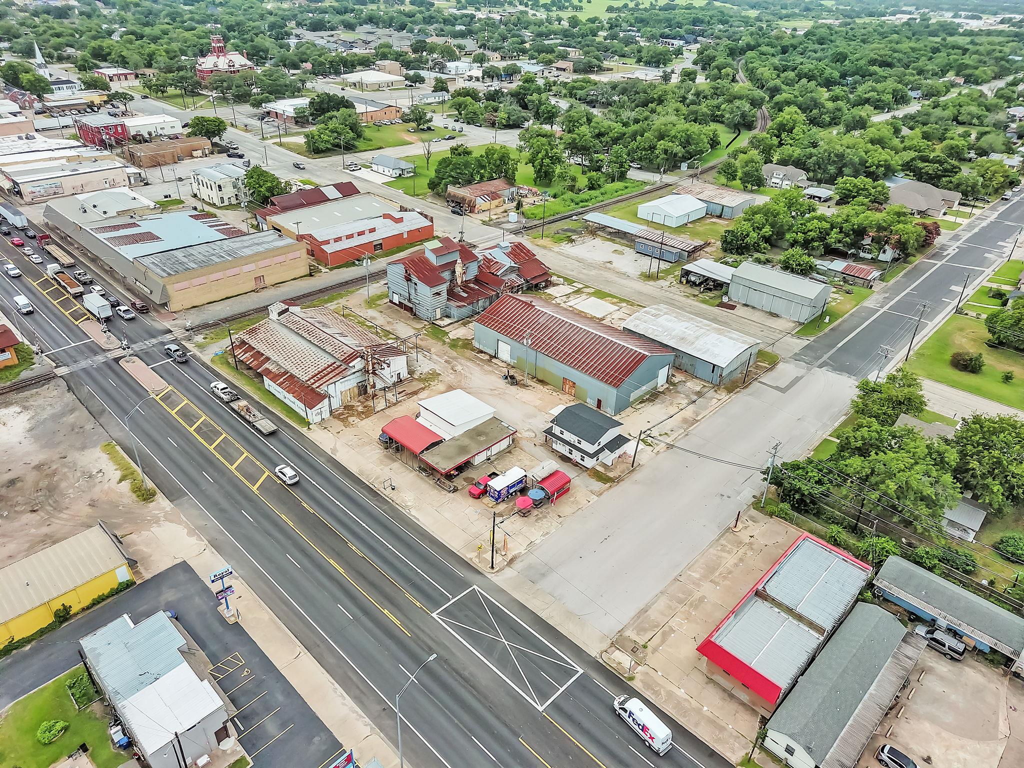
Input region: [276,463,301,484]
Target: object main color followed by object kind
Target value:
white car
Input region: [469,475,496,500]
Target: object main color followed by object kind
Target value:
red truck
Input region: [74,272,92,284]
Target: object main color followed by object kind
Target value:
gray vehicle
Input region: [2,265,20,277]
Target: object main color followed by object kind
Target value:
white vehicle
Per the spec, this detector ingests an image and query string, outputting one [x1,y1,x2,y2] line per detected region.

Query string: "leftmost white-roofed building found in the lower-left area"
[0,518,137,646]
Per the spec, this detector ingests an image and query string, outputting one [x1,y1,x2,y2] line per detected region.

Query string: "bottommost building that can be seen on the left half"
[77,611,230,768]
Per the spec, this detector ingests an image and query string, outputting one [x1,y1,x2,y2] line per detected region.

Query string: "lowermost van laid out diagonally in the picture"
[605,693,668,751]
